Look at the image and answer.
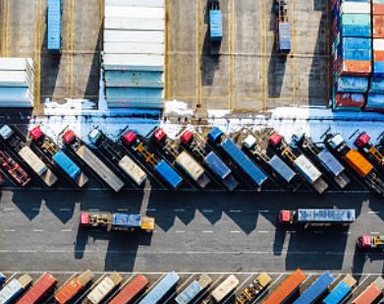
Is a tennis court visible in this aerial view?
No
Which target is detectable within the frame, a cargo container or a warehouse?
cargo container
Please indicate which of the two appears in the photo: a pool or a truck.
truck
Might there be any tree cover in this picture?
No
